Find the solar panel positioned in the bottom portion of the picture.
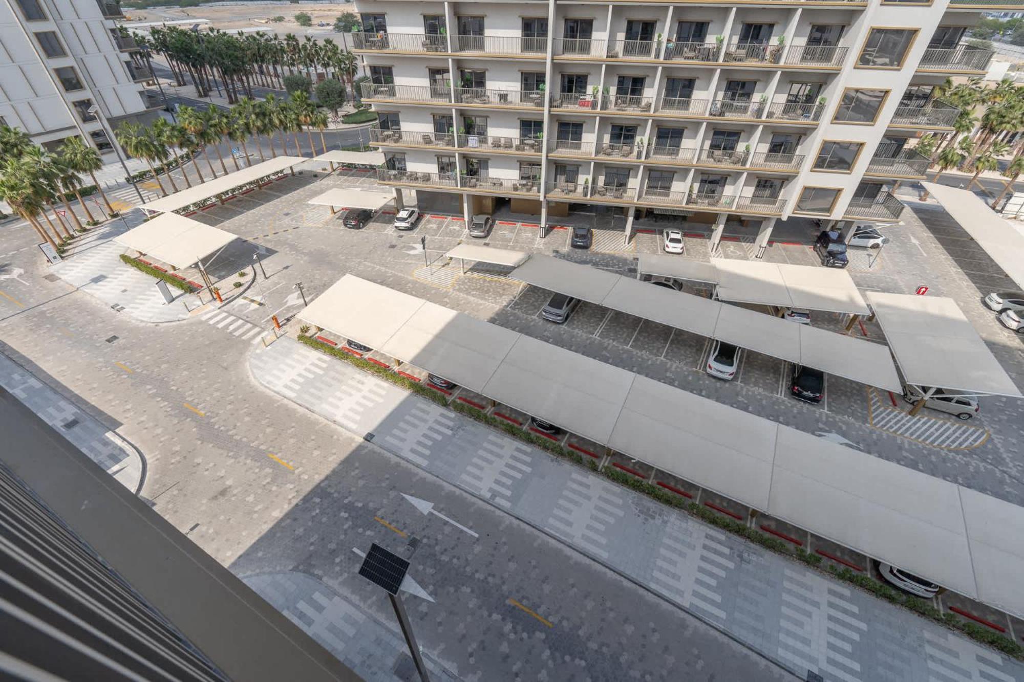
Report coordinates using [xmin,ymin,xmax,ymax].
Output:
[359,546,420,605]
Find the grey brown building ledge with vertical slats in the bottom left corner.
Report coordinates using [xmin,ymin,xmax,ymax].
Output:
[0,384,380,682]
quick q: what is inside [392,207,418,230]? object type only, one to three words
car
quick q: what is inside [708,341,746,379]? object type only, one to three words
car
